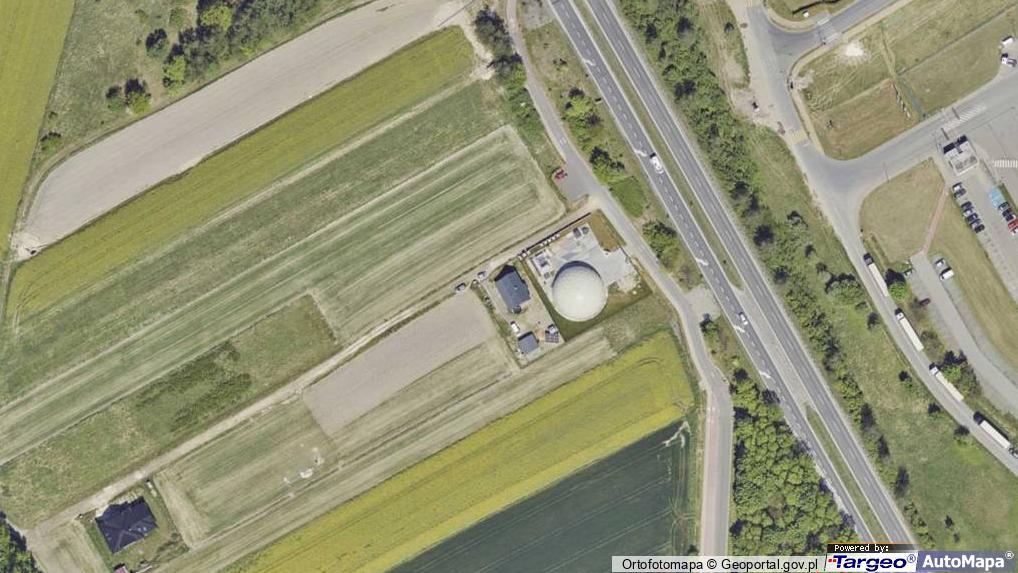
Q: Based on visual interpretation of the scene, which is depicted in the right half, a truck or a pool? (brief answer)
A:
truck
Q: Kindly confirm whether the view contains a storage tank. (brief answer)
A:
Yes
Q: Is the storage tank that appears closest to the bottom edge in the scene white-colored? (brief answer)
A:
Yes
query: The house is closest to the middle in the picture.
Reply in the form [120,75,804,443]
[494,271,532,312]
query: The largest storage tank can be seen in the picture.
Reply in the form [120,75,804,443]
[552,264,607,319]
